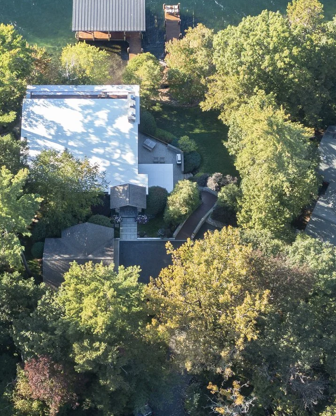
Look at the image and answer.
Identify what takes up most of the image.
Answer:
trees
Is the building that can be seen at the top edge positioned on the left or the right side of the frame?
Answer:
left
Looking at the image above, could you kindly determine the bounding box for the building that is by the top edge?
[72,0,146,45]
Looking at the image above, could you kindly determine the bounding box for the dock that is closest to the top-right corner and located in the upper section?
[163,2,181,57]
